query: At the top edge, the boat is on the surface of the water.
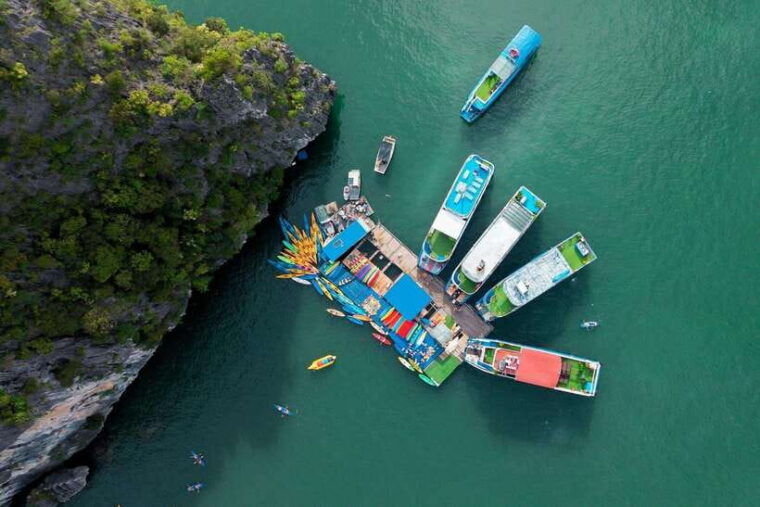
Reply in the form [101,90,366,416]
[462,24,540,121]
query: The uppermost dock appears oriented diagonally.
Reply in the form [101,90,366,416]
[367,223,421,280]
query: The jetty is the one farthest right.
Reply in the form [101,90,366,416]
[412,262,463,314]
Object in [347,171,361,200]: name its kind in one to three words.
boat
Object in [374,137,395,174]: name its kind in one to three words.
boat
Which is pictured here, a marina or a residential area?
marina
